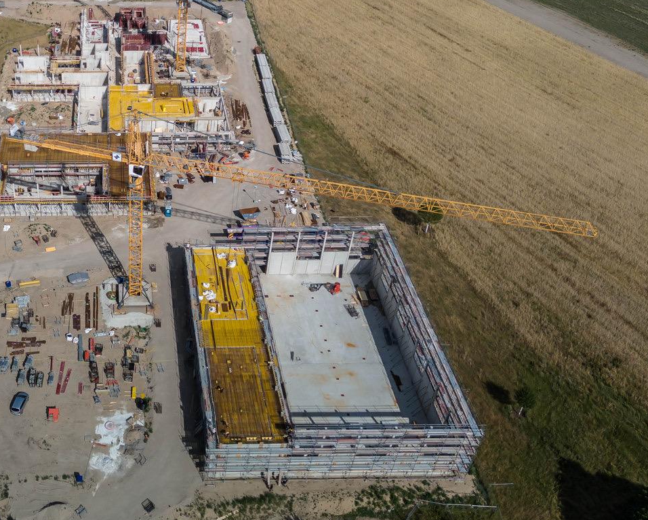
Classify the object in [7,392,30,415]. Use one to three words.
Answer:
car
